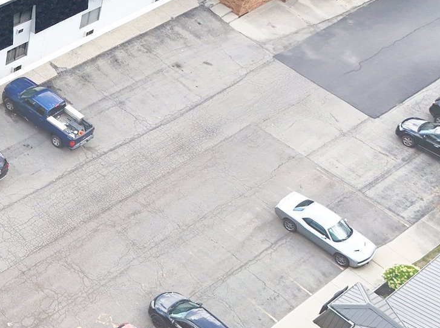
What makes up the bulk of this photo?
paved ground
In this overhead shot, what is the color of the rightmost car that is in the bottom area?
white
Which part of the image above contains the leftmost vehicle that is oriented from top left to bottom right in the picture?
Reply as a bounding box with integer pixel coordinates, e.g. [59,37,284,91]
[3,77,100,154]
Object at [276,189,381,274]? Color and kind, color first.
white car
